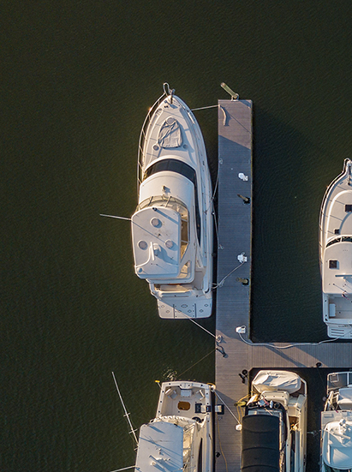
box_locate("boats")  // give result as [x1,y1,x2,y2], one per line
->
[242,368,310,472]
[319,157,352,338]
[103,83,218,318]
[319,372,352,472]
[112,371,226,472]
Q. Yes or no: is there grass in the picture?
No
